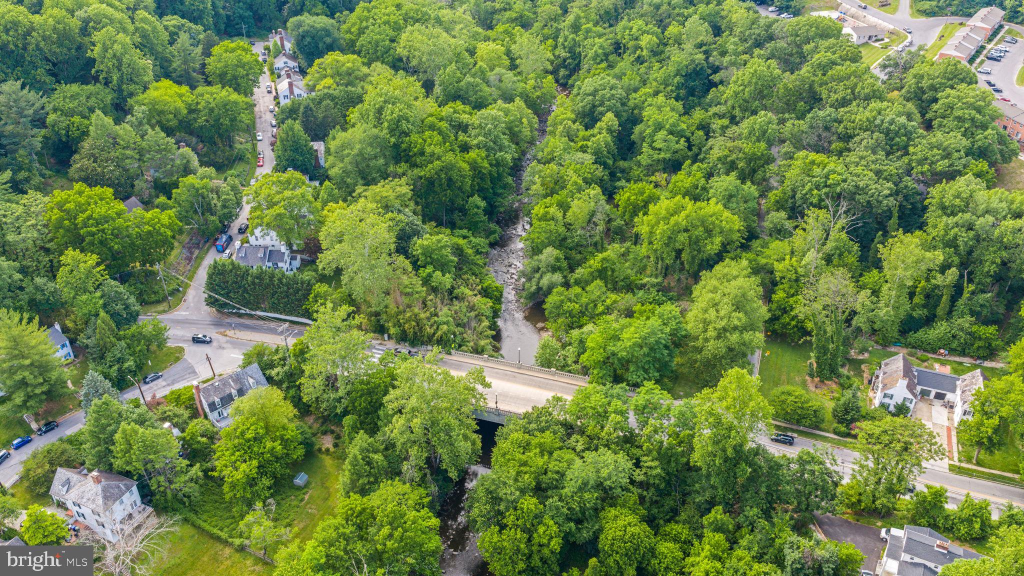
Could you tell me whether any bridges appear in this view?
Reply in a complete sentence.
Yes, you can see a bridge in this photo.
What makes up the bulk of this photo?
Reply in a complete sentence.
What you mostly see from above here is trees.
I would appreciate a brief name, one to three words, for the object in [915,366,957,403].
building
